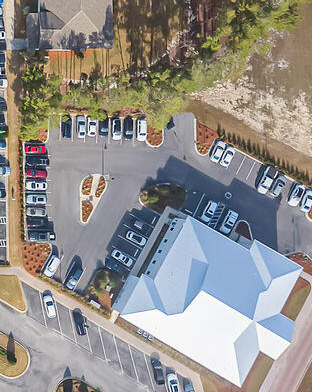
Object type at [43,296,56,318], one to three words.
vehicle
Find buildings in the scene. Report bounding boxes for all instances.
[105,216,303,387]
[23,0,111,51]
